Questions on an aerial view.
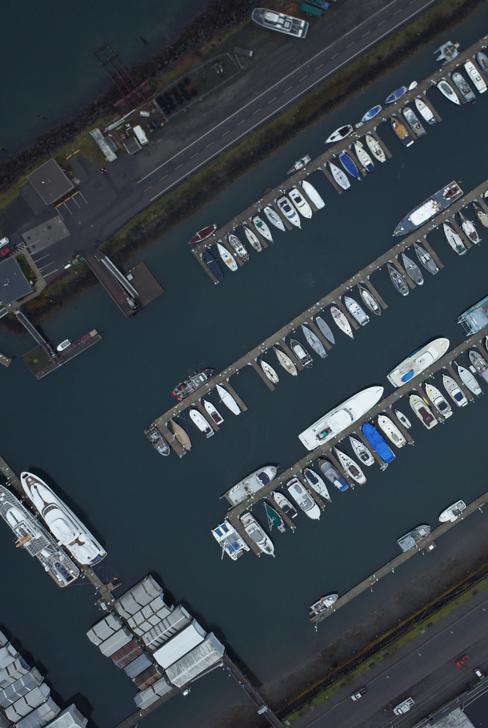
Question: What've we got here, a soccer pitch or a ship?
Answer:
ship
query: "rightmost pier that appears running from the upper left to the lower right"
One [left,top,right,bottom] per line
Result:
[221,652,282,728]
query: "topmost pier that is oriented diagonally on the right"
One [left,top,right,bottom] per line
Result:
[190,38,488,285]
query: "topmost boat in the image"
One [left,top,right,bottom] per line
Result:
[251,7,309,38]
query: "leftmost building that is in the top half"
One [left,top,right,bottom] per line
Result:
[0,255,38,306]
